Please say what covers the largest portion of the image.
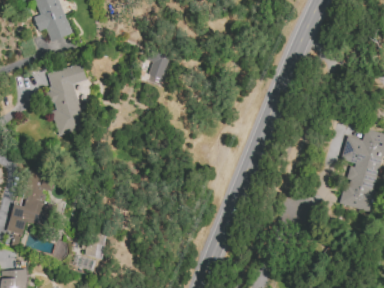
trees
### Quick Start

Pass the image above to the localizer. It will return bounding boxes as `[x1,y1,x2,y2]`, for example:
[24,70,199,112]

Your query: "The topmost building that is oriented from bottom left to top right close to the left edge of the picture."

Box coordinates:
[7,173,52,234]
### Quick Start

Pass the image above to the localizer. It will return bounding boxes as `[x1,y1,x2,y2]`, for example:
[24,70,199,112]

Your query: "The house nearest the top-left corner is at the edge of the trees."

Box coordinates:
[34,0,73,44]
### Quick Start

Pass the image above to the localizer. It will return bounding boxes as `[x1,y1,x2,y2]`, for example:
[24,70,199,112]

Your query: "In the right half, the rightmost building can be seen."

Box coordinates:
[341,130,384,212]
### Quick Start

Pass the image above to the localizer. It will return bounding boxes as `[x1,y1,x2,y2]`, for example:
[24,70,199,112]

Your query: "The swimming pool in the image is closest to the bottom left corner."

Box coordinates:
[26,235,55,254]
